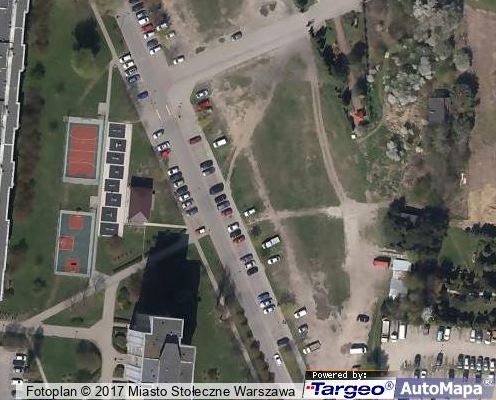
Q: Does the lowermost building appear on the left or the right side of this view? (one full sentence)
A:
The lowermost building appears in the left half of the scene.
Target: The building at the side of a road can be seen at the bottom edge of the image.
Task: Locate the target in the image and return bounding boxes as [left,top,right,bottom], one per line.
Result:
[123,311,196,400]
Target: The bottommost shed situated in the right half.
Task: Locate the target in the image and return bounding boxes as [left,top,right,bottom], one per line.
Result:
[388,279,407,300]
